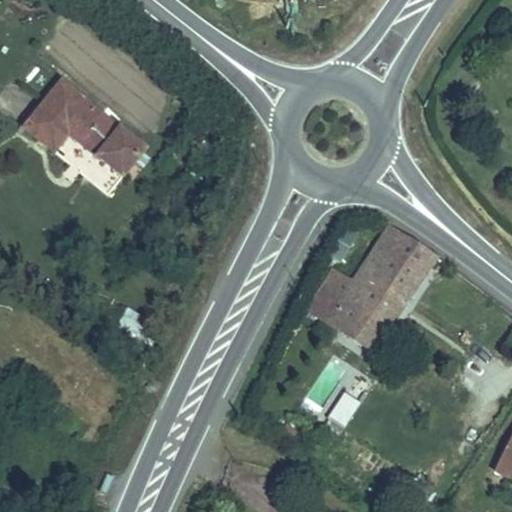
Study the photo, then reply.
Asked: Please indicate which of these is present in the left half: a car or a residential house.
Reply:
residential house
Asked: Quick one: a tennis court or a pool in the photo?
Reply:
pool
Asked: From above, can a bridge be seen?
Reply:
No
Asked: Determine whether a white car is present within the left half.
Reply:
No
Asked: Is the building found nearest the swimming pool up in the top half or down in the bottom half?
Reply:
bottom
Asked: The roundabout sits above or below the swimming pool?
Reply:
above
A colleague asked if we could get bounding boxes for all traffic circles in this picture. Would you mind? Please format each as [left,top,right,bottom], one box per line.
[268,61,401,206]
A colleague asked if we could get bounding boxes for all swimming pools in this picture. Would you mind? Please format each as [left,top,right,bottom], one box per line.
[302,356,348,414]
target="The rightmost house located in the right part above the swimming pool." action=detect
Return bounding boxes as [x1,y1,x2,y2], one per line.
[310,225,438,350]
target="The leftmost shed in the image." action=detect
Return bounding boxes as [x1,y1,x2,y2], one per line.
[0,84,34,118]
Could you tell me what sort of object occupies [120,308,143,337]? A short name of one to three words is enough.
shed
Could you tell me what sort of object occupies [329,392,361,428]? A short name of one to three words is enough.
building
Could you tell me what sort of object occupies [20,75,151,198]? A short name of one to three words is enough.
house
